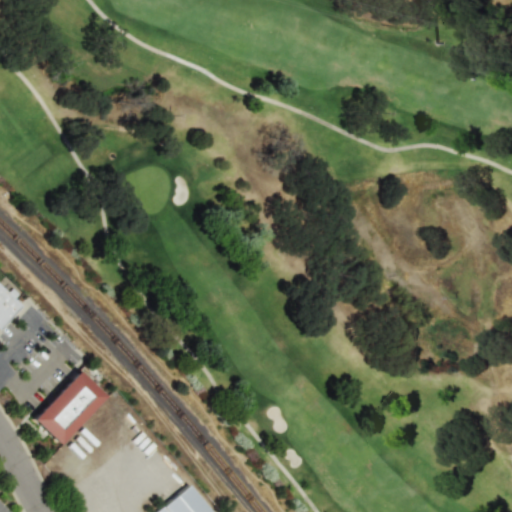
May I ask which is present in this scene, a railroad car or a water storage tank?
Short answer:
railroad car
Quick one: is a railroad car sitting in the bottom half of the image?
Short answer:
Yes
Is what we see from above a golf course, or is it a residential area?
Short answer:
golf course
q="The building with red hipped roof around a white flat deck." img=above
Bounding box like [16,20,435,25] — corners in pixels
[36,373,108,444]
